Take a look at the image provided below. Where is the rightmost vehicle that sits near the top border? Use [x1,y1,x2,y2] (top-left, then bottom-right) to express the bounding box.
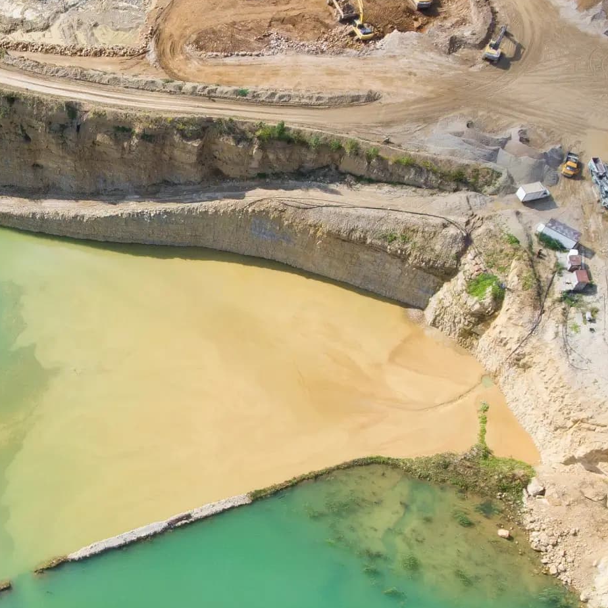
[483,6,514,62]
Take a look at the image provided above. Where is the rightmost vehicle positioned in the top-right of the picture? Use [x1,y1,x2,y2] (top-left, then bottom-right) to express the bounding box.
[563,147,583,183]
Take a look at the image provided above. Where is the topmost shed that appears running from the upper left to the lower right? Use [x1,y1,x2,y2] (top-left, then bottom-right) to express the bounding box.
[541,216,582,247]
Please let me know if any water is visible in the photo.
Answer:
Yes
